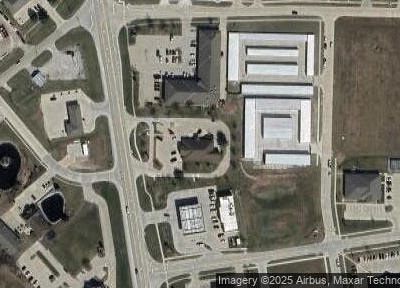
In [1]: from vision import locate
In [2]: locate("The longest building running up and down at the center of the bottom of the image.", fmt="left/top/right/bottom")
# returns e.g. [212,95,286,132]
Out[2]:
[218,194,239,232]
